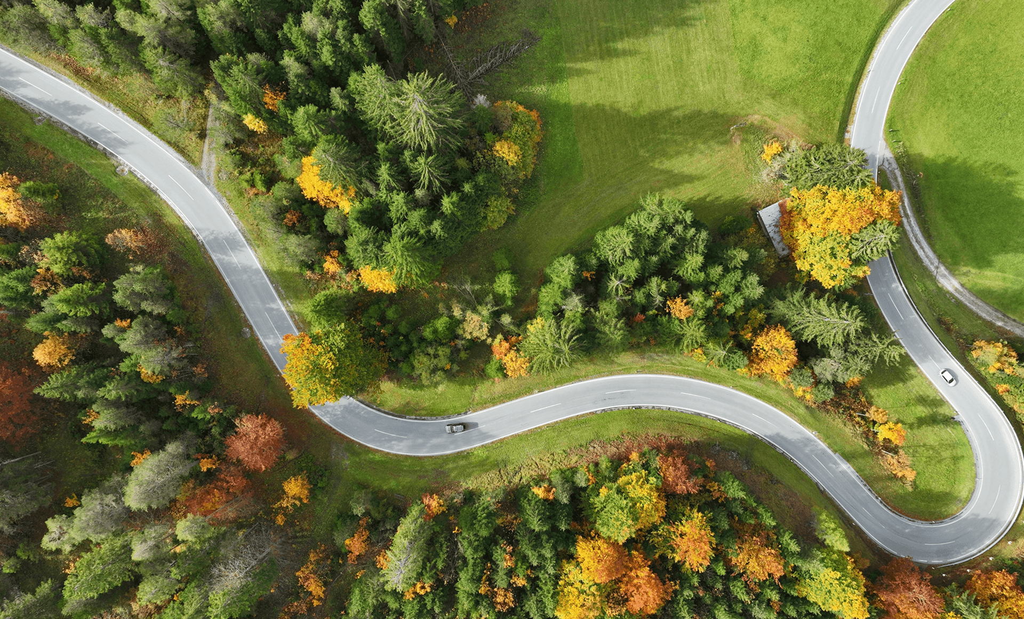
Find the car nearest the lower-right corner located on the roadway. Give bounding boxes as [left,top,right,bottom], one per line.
[937,367,957,387]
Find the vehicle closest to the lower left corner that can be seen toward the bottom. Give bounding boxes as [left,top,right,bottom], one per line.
[446,422,466,434]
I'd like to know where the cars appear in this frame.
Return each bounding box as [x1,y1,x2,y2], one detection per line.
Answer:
[937,367,957,387]
[446,422,466,434]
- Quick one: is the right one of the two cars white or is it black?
white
